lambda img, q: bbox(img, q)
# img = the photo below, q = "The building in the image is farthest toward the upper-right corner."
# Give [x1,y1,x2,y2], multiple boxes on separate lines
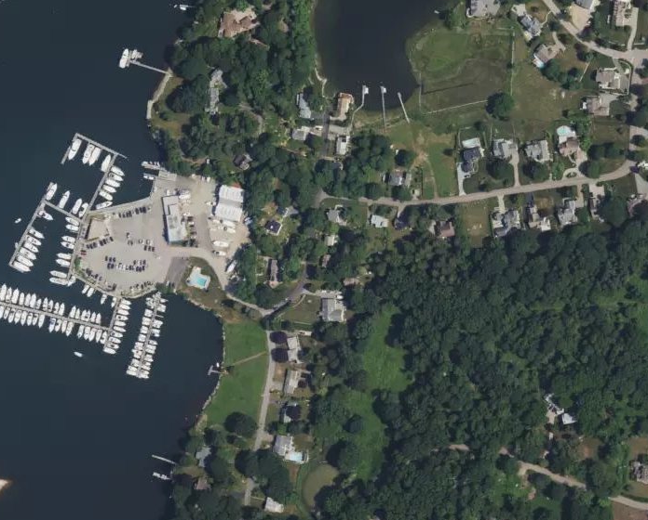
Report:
[613,0,635,25]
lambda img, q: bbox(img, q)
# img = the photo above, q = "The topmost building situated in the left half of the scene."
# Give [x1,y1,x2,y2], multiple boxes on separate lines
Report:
[218,12,255,37]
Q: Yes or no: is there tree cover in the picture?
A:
Yes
